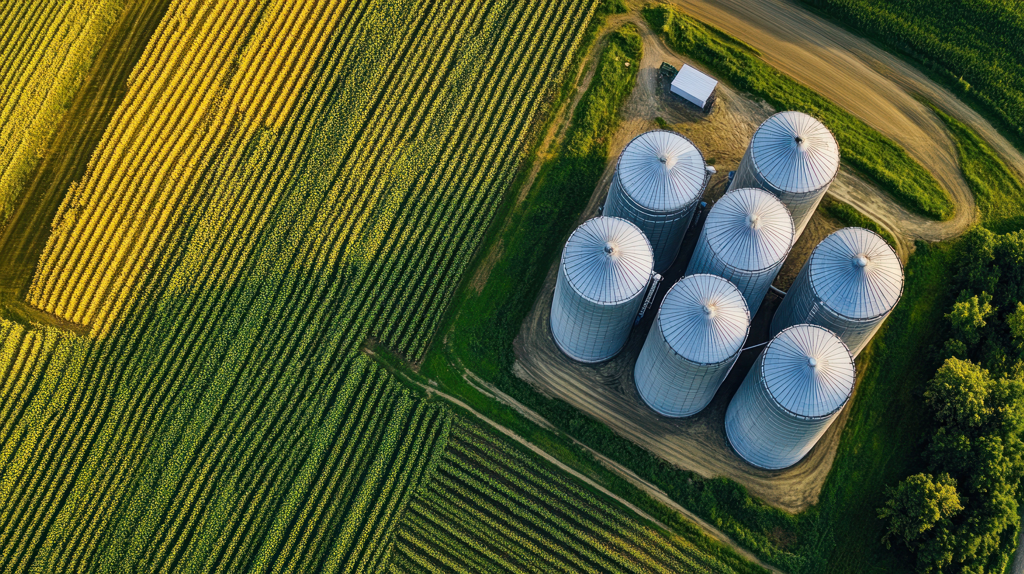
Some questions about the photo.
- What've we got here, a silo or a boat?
silo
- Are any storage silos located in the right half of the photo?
Yes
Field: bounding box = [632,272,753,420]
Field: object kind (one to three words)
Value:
silo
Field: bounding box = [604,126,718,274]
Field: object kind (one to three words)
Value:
silo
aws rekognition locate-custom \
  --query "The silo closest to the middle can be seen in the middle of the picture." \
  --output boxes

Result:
[546,215,656,365]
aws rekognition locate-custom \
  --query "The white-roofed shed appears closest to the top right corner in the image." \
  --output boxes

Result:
[670,63,718,109]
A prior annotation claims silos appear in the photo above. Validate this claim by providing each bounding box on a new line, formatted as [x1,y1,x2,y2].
[546,215,656,365]
[727,324,860,473]
[681,187,797,324]
[771,225,907,360]
[731,108,842,254]
[604,126,718,274]
[632,272,753,420]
